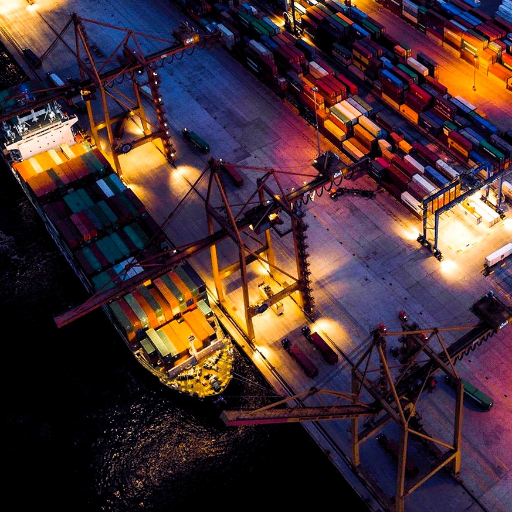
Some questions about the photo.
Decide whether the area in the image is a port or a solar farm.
port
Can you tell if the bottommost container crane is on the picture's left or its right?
right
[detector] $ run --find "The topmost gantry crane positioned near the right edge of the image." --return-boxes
[412,157,511,260]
